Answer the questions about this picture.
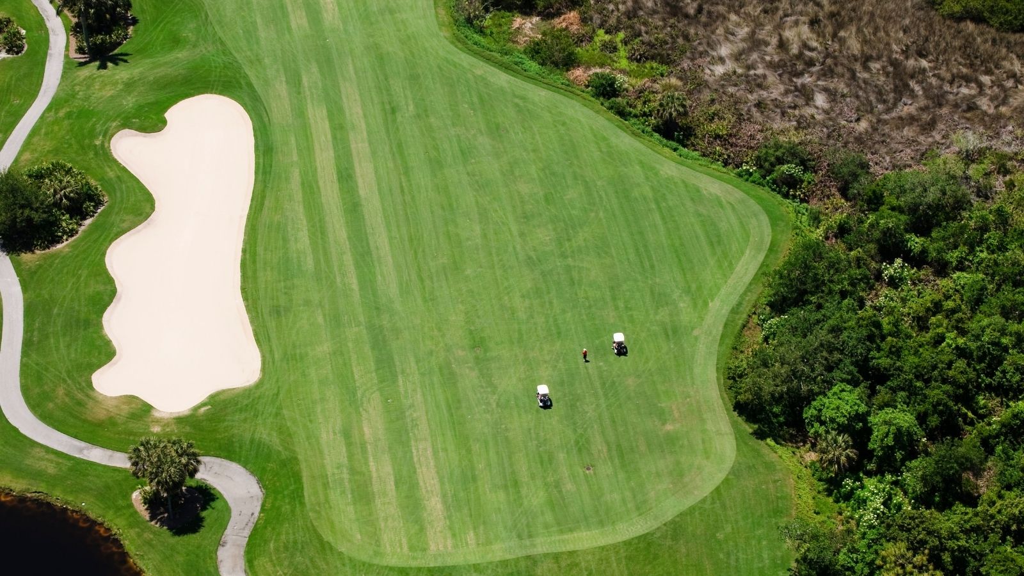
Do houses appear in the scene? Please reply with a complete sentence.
No, there appears to be no house in this shot.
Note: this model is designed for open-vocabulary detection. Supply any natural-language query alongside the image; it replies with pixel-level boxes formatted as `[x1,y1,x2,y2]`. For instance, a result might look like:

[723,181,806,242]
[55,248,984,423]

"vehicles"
[613,333,627,355]
[536,385,552,410]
